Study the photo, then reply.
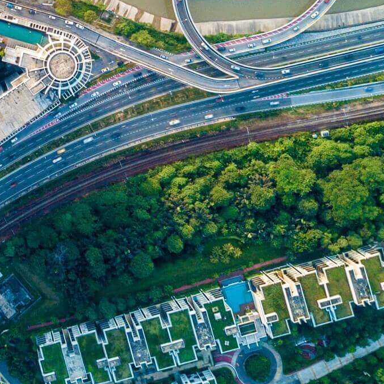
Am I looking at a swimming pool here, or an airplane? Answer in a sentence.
The image shows a swimming pool.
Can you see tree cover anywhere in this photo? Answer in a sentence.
Yes, there's tree cover in this view.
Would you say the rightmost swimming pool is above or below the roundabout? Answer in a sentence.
Within the scene, the rightmost swimming pool can be found above the roundabout.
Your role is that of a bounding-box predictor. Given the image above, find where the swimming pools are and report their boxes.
[0,20,49,45]
[219,274,252,313]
